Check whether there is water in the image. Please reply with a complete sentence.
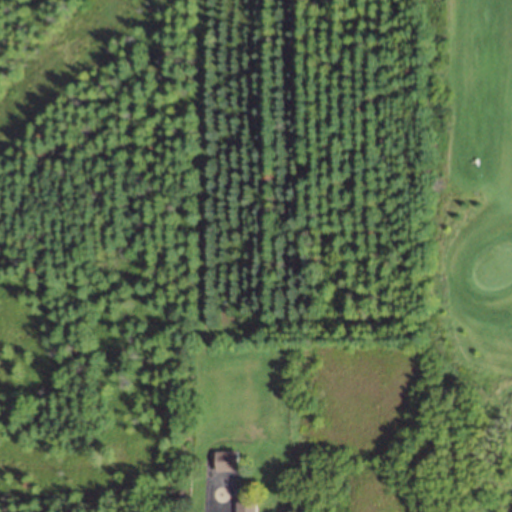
No, there's no water in this view.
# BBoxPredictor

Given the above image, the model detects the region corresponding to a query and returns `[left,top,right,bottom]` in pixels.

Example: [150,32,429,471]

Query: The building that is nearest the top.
[214,452,238,474]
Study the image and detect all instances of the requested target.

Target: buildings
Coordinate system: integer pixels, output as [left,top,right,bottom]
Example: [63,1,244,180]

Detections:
[236,502,259,512]
[214,452,238,474]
